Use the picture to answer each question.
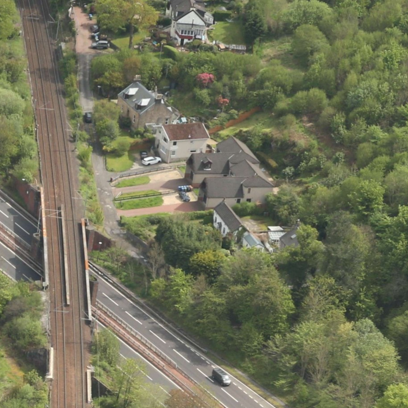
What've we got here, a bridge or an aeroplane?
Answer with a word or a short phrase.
bridge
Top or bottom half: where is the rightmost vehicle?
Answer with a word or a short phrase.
bottom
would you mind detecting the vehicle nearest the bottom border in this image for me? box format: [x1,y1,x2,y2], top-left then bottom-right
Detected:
[212,364,233,384]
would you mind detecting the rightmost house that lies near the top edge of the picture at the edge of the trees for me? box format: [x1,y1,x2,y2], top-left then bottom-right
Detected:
[169,0,220,42]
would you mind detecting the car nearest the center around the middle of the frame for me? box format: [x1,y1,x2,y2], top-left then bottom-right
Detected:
[178,187,193,200]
